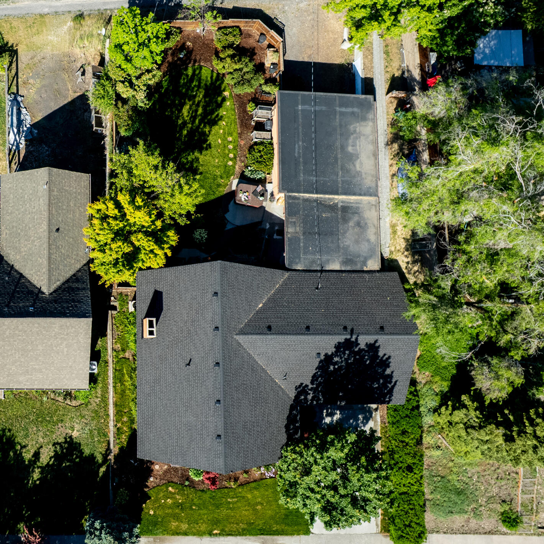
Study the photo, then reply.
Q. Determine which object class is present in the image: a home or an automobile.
home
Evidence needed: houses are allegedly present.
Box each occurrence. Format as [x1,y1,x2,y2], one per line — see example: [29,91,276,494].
[137,261,419,474]
[0,167,92,400]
